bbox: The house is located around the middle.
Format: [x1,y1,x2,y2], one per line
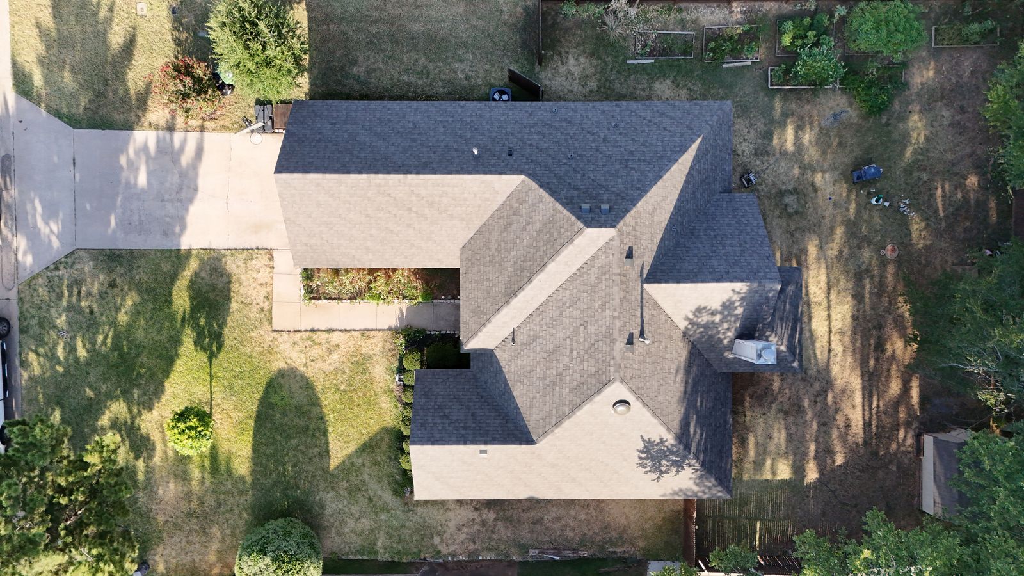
[274,100,803,501]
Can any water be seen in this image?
No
